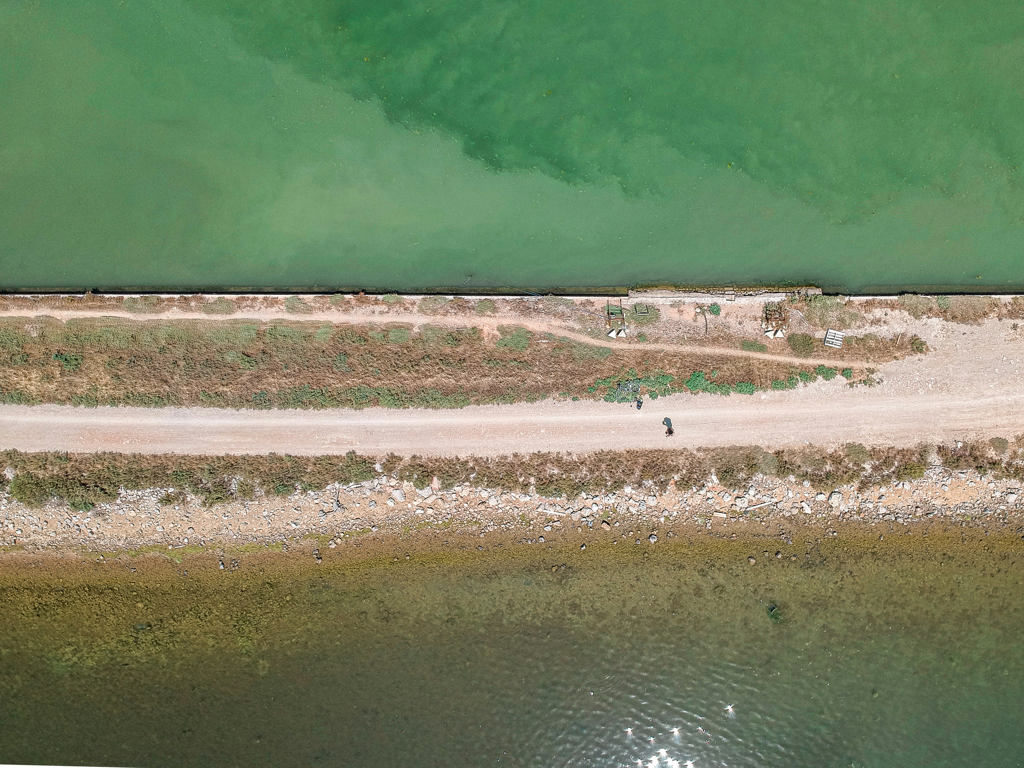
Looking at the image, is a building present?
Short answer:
No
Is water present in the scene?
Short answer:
Yes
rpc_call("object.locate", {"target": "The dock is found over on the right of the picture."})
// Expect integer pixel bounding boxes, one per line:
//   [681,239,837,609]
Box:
[627,285,822,304]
